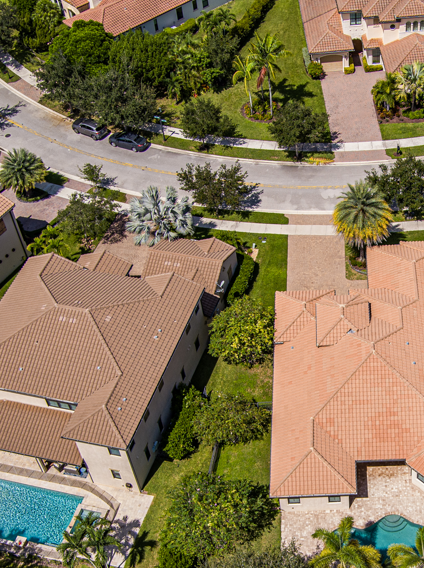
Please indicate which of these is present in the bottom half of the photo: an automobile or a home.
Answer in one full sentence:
The one visible in the bottom half of the photo is a home.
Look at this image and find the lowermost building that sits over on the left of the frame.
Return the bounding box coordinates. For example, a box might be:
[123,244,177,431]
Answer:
[0,237,238,492]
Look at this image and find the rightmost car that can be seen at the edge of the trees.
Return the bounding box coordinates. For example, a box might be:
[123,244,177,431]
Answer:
[106,128,148,150]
